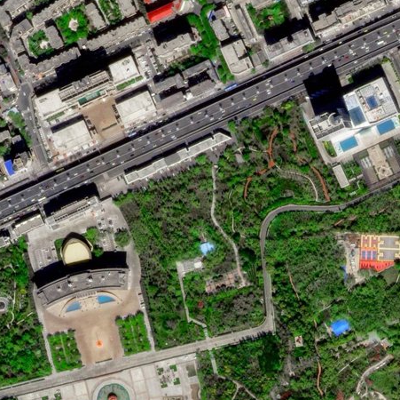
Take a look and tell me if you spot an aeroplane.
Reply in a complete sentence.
No, there isn't any aeroplane down there.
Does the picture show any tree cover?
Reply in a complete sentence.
Yes, tree cover can be seen from above here.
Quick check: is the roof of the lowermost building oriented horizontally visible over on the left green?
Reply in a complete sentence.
No, the color of the roof of the lowermost building oriented horizontally visible over on the left is gray.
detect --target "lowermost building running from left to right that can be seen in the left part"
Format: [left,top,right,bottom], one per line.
[37,269,133,308]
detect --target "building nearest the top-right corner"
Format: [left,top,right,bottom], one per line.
[334,0,388,23]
